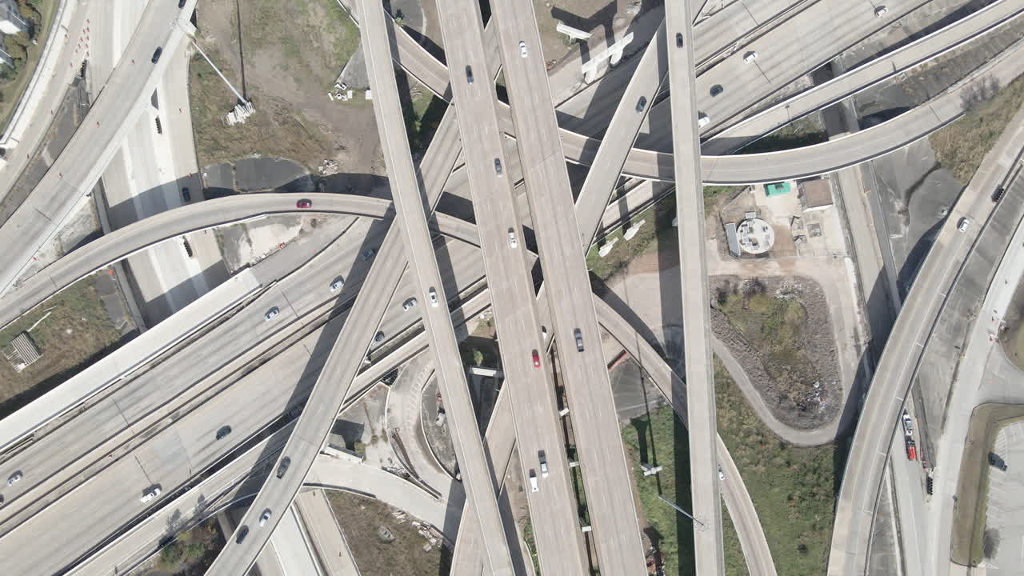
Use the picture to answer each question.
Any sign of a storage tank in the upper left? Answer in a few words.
No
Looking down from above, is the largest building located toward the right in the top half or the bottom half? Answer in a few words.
top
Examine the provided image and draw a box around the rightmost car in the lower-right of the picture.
[990,455,1005,468]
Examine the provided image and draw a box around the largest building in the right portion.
[800,180,832,209]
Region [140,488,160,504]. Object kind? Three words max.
vehicle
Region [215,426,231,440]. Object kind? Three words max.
car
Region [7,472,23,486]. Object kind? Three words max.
car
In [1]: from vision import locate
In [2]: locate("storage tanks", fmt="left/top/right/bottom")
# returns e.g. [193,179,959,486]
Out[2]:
[739,217,777,255]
